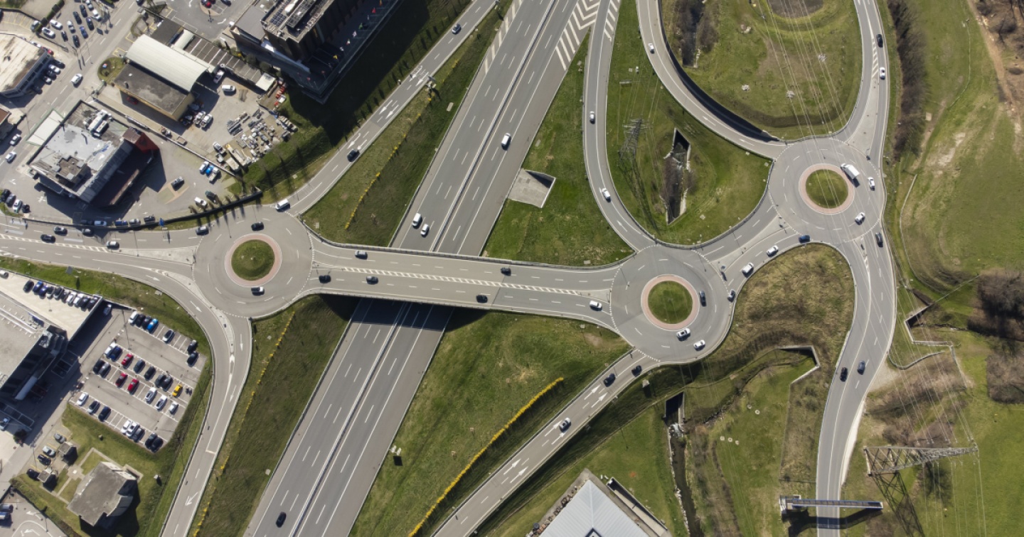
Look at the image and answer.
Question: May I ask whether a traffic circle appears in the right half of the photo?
Yes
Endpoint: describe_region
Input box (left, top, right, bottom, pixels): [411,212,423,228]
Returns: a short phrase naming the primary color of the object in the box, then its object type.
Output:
white vehicle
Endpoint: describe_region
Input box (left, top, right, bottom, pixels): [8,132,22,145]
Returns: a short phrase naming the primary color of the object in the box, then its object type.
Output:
gray vehicle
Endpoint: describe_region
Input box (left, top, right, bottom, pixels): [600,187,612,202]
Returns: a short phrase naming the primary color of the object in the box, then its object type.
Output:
white vehicle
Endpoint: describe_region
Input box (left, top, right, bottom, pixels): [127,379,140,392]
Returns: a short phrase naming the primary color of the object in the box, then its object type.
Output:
red vehicle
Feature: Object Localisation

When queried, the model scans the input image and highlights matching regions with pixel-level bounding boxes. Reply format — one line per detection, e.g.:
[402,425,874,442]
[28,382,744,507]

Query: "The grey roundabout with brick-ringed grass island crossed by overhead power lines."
[766,134,887,246]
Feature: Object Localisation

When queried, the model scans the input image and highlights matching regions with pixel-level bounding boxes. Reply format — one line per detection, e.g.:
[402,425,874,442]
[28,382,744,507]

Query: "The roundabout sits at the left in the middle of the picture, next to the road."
[194,204,314,319]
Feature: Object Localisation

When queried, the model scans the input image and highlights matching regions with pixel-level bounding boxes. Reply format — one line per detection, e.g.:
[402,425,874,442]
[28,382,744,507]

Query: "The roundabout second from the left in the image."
[608,243,733,365]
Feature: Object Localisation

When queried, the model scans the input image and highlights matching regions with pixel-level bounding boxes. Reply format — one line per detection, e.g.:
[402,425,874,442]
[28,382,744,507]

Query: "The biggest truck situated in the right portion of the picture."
[840,160,865,183]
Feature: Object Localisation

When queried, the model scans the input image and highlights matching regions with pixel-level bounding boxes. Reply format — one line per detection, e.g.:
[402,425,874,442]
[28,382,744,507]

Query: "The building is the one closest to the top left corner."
[0,32,53,100]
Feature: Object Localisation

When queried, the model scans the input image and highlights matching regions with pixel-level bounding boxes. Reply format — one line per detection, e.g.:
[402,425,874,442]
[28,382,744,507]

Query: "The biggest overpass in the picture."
[247,214,639,335]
